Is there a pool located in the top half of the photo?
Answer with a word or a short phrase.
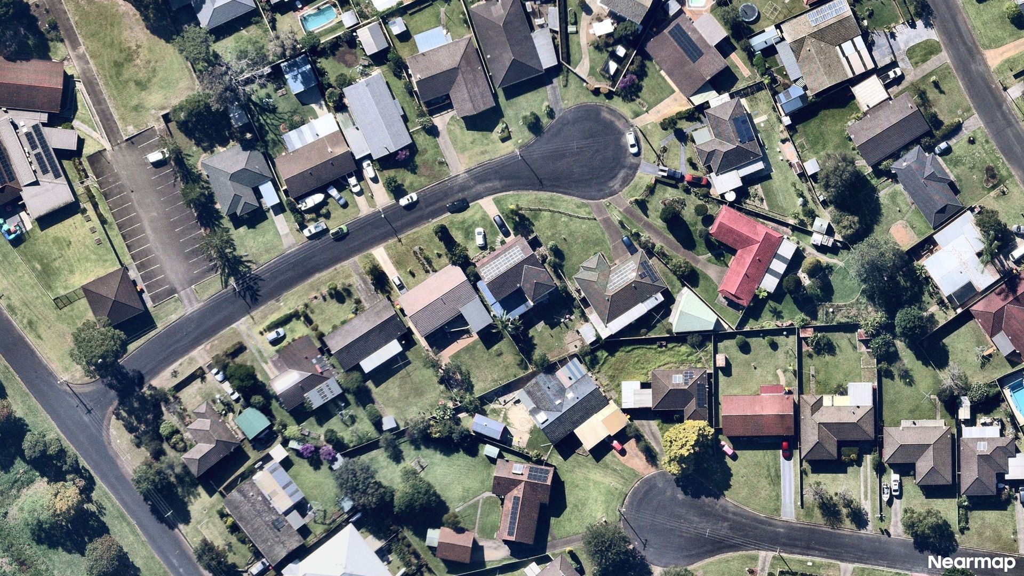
Yes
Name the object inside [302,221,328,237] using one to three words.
vehicle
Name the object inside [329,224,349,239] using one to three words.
car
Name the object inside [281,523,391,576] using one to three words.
building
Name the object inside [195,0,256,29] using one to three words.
house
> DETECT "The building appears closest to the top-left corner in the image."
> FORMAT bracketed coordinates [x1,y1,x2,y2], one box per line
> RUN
[0,56,64,113]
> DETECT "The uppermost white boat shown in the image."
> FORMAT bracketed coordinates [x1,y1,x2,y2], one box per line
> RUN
[297,193,327,212]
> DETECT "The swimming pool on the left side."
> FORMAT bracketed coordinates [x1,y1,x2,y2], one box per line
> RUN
[299,3,342,33]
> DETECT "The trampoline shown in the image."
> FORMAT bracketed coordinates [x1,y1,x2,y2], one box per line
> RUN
[740,3,758,21]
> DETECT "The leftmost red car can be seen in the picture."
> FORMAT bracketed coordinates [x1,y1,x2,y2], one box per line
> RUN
[611,440,625,455]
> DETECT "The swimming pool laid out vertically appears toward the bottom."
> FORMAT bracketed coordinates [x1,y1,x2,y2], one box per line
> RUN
[1003,377,1024,426]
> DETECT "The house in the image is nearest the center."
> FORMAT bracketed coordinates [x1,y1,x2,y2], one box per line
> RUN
[475,234,557,318]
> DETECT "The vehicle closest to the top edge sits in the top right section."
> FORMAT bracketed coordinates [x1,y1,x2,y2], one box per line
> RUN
[879,67,903,84]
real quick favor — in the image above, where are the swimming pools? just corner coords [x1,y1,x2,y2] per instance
[687,0,713,9]
[299,3,342,33]
[1003,377,1024,426]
